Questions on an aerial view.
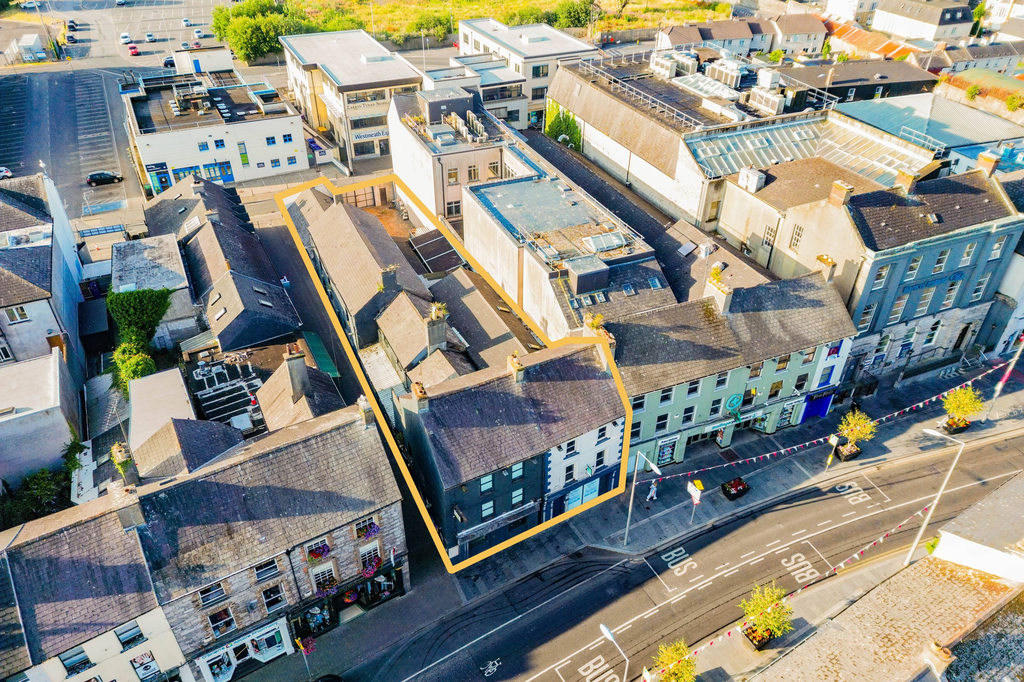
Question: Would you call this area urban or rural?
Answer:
urban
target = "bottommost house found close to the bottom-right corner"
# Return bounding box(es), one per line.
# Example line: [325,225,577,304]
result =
[738,536,1024,682]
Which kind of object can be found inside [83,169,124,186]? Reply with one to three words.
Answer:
car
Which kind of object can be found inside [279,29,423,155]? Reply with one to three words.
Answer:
building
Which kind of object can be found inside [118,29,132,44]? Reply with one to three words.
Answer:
car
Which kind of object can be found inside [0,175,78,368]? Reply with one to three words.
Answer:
house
